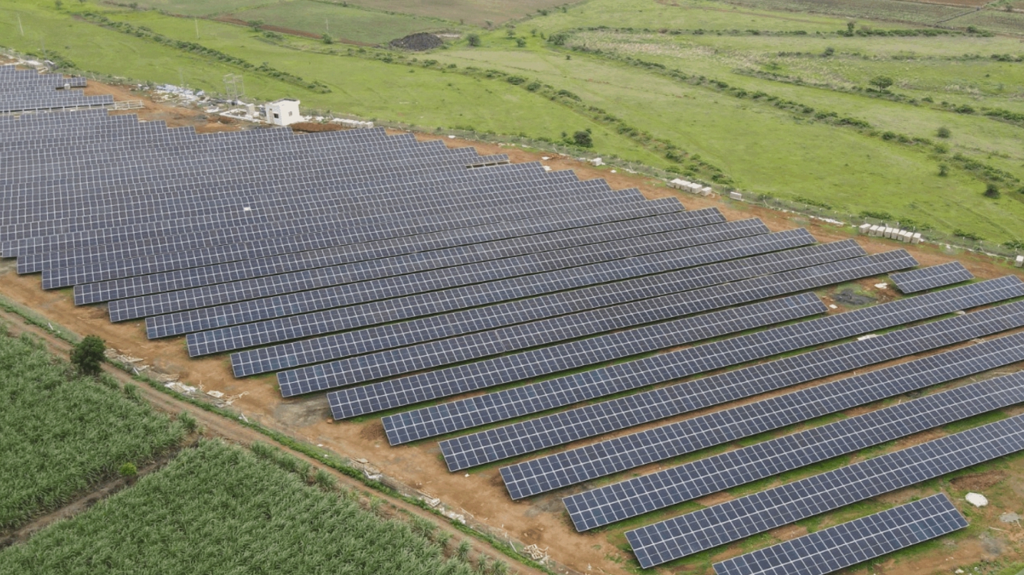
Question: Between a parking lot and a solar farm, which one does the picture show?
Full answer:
This image shows a solar farm.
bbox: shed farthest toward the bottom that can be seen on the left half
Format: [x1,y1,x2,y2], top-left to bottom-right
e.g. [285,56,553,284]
[264,99,298,125]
